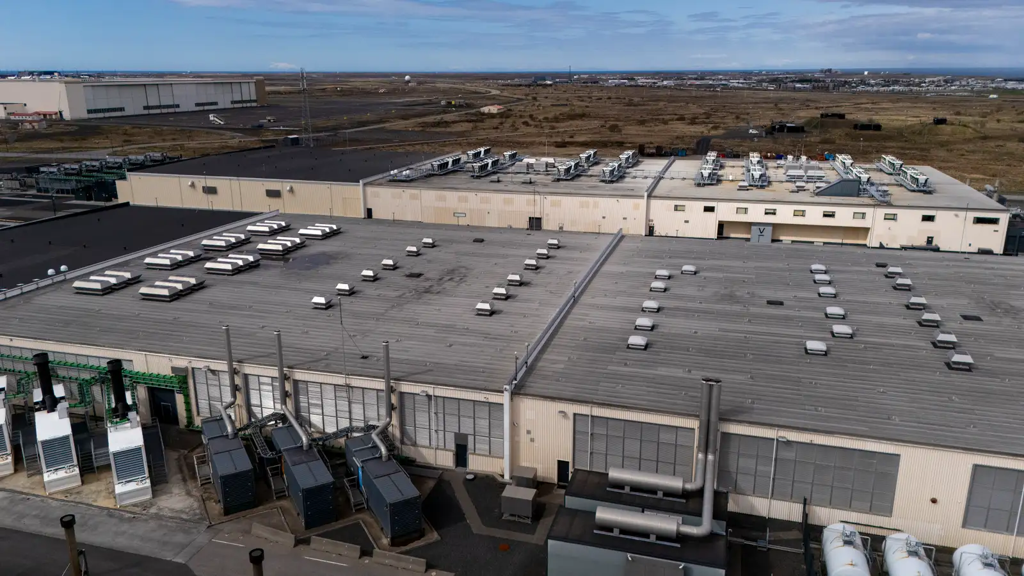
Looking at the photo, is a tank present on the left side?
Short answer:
No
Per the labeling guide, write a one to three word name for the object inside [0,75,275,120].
hangar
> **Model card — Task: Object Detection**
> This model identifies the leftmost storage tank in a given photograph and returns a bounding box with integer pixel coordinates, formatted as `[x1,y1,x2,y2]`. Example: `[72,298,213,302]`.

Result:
[814,529,875,576]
